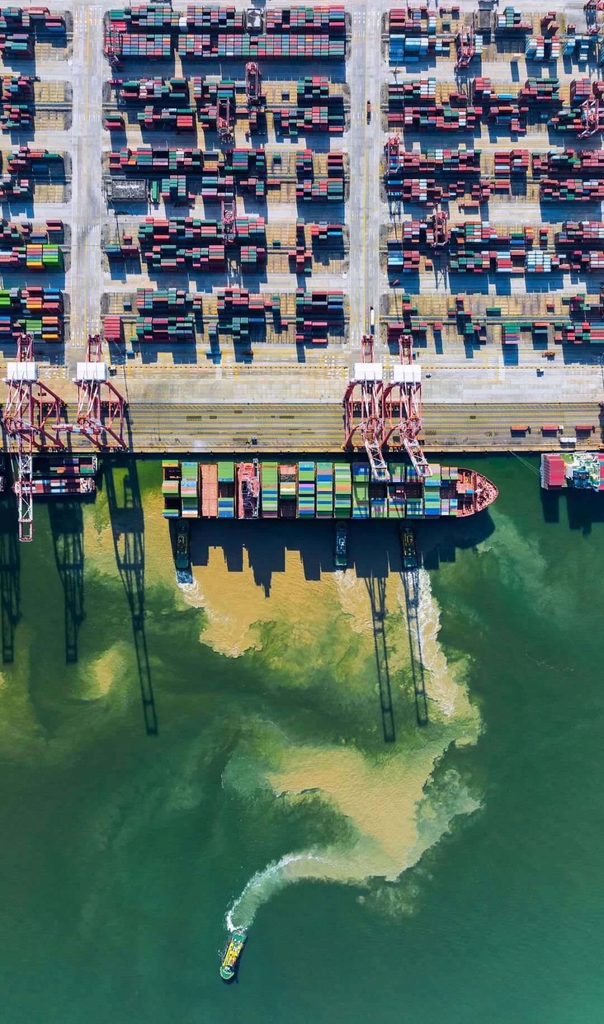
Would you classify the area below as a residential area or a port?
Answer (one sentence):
What you see here is a port.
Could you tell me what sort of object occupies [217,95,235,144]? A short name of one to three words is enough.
crane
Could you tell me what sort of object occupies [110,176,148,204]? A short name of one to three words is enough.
shed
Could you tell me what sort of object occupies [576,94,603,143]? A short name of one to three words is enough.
crane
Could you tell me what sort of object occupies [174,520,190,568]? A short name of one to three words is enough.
boat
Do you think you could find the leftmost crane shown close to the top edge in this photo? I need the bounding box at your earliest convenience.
[101,21,123,73]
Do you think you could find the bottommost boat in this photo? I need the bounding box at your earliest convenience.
[220,930,245,982]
